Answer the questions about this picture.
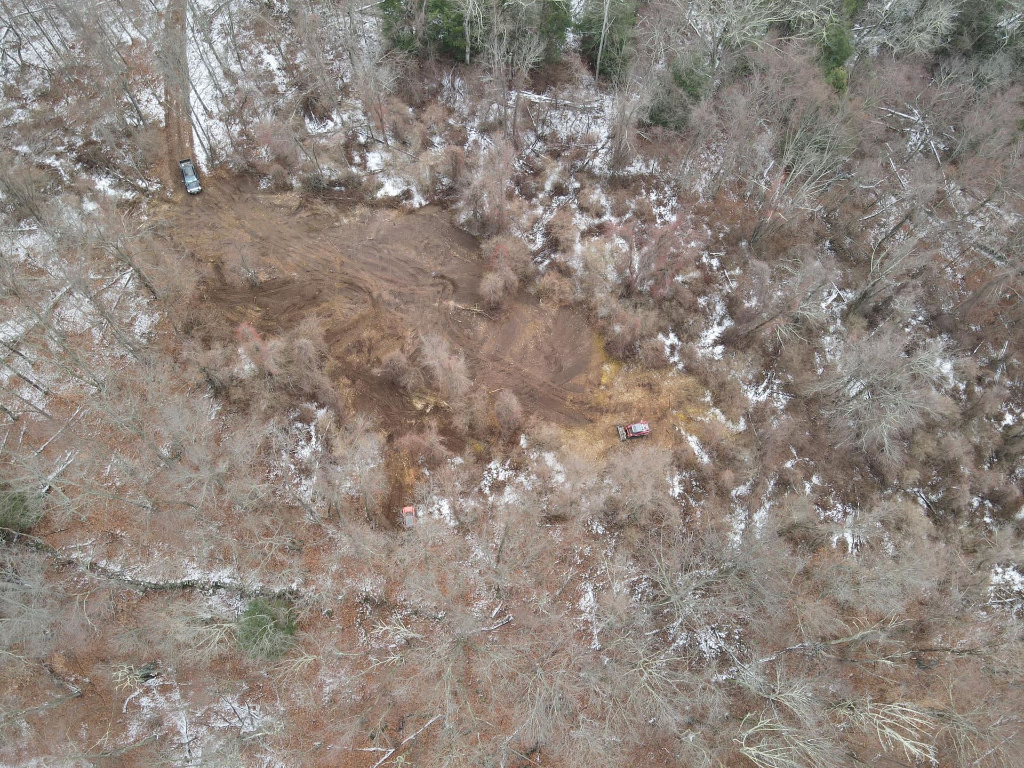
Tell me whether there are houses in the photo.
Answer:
No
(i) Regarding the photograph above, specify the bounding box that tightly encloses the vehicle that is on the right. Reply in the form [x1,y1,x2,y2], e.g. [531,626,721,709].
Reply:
[616,421,649,443]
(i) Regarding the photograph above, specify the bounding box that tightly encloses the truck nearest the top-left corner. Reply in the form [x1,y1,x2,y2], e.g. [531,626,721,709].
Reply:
[176,155,202,196]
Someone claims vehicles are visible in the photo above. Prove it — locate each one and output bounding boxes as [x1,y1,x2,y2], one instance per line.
[401,504,418,528]
[616,421,649,443]
[176,155,202,196]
